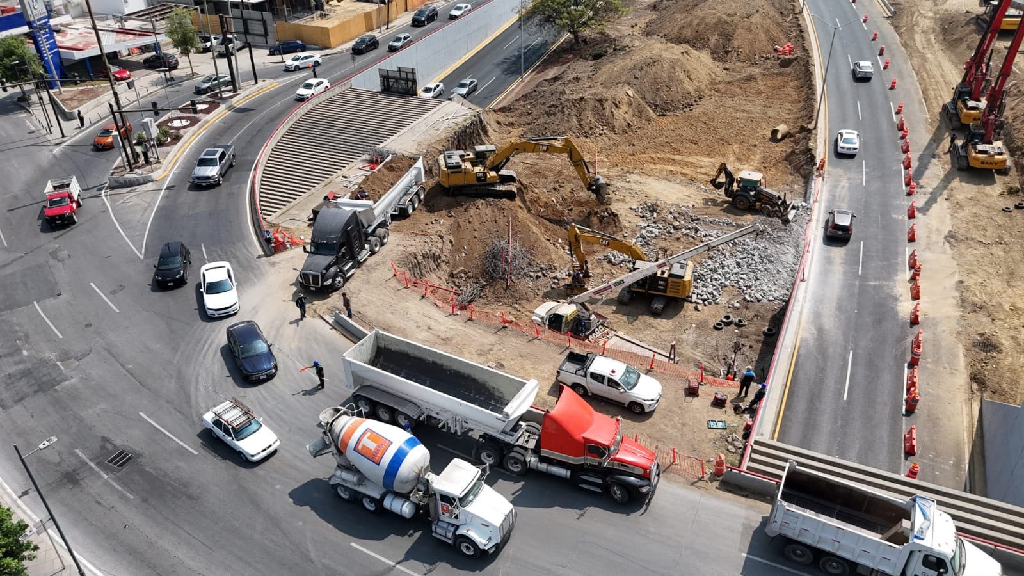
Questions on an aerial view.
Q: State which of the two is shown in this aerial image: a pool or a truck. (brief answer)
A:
truck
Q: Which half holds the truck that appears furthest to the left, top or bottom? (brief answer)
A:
top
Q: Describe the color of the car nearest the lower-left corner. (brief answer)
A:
white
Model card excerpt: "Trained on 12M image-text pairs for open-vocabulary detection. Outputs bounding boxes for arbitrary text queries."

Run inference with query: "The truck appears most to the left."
[41,168,81,224]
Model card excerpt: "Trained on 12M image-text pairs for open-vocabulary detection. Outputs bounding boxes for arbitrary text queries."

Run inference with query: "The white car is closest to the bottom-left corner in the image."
[202,398,280,462]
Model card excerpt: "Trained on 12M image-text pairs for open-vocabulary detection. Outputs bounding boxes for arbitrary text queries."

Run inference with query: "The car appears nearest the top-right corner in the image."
[852,59,874,78]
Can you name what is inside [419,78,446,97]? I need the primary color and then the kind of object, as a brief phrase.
white car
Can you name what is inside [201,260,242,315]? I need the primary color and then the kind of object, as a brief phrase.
white car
